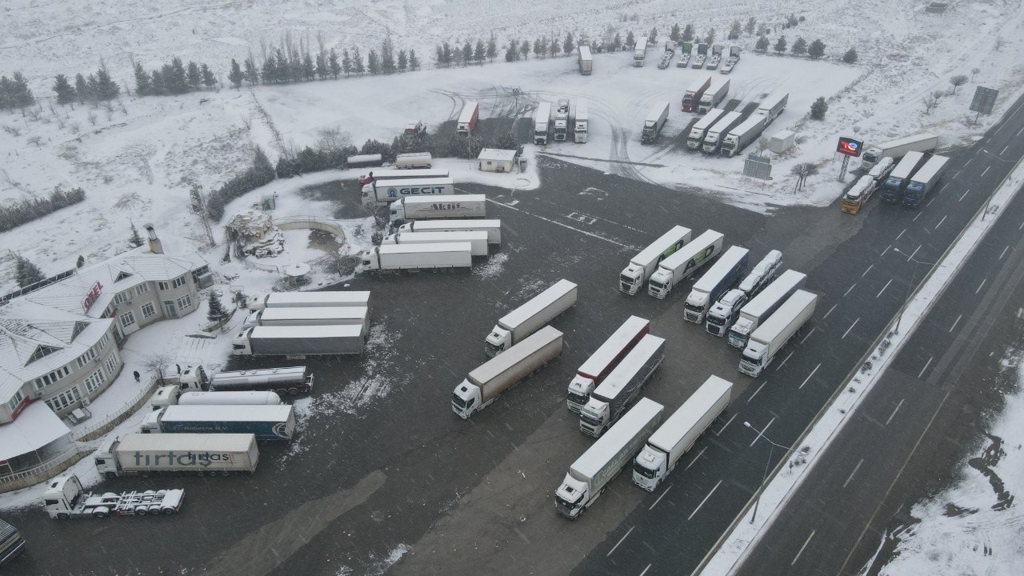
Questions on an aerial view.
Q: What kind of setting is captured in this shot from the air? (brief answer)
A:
parking lot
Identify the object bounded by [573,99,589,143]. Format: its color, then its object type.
white vehicle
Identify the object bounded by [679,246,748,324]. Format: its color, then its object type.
white truck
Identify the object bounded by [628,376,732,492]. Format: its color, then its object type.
white truck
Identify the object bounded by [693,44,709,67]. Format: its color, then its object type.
gray vehicle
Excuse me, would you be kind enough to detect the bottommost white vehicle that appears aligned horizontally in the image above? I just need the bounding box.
[34,472,186,516]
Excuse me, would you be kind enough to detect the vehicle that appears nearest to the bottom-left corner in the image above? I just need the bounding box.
[0,519,30,572]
